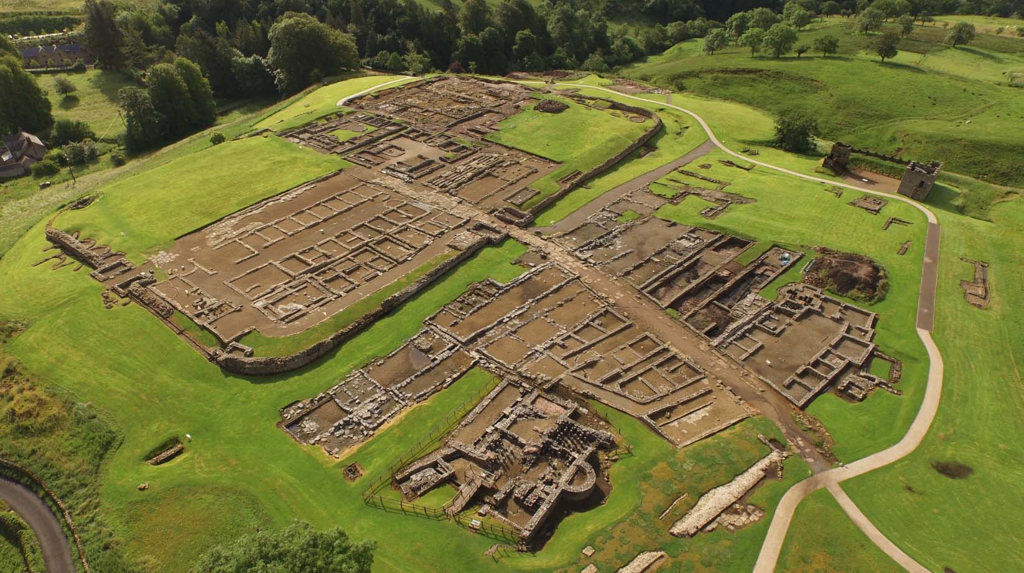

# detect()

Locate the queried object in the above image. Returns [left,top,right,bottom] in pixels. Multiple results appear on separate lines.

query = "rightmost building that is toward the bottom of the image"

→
[732,280,878,412]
